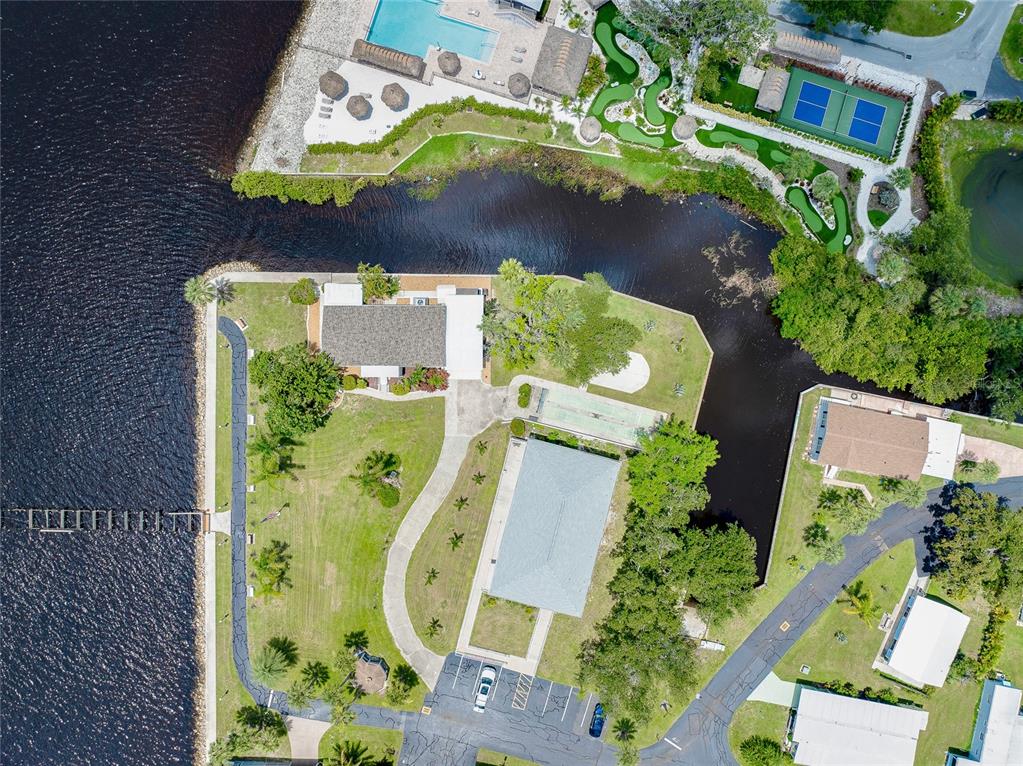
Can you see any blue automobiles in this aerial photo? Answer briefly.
Yes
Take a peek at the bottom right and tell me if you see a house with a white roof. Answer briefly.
Yes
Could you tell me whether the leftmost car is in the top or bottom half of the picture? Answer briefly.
bottom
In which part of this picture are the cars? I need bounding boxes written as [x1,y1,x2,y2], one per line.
[472,664,497,714]
[586,701,608,739]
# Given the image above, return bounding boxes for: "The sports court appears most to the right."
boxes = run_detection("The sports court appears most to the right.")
[776,66,904,158]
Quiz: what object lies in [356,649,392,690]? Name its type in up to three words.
gazebo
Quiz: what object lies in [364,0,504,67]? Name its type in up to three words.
swimming pool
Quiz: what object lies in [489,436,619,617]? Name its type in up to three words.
building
